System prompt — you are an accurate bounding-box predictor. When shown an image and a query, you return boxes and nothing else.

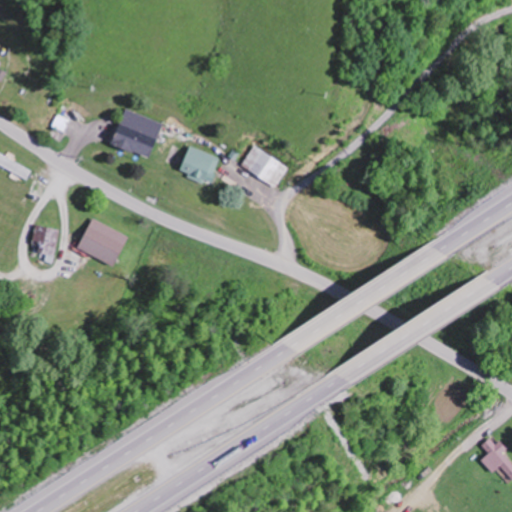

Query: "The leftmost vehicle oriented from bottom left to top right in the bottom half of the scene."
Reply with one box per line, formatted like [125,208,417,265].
[212,438,256,468]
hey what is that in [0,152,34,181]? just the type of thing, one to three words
house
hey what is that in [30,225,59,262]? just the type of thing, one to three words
house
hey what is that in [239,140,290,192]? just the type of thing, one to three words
shed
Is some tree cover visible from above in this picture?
Yes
